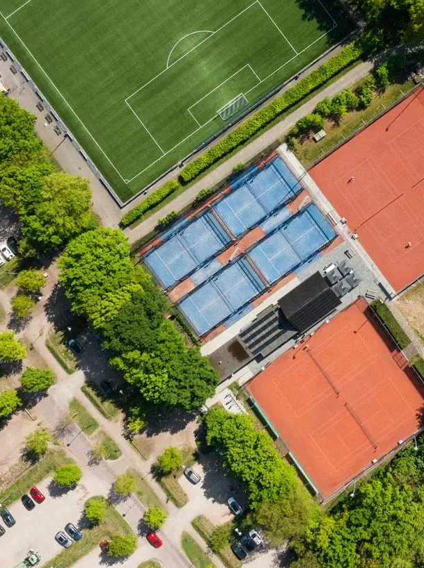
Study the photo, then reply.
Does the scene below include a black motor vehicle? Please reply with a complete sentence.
Yes, a black motor vehicle appears in the view.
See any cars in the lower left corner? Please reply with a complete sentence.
Yes, a car is visible in the lower left corner.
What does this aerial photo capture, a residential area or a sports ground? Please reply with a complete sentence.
The picture captures a sports ground.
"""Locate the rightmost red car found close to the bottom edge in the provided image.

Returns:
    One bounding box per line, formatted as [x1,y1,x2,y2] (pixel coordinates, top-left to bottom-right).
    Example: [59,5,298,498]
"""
[147,530,162,548]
